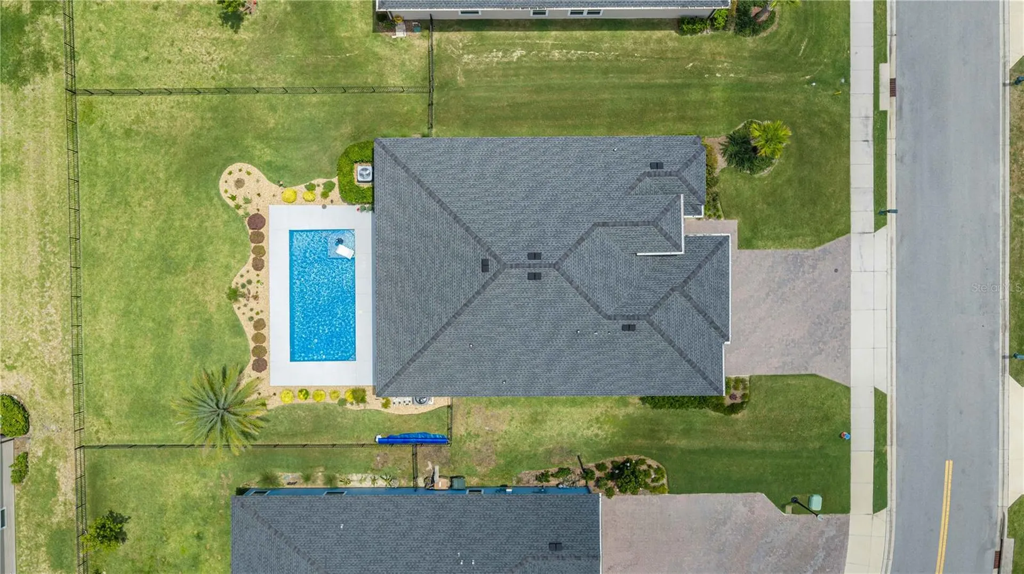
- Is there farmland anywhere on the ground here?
No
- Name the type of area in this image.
residential area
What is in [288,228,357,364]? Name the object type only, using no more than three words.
swimming pool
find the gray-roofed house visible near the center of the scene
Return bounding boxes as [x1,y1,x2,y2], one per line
[374,135,728,397]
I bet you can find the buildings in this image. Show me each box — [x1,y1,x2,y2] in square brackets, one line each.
[0,438,16,574]
[375,0,731,23]
[374,135,728,397]
[230,488,601,574]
